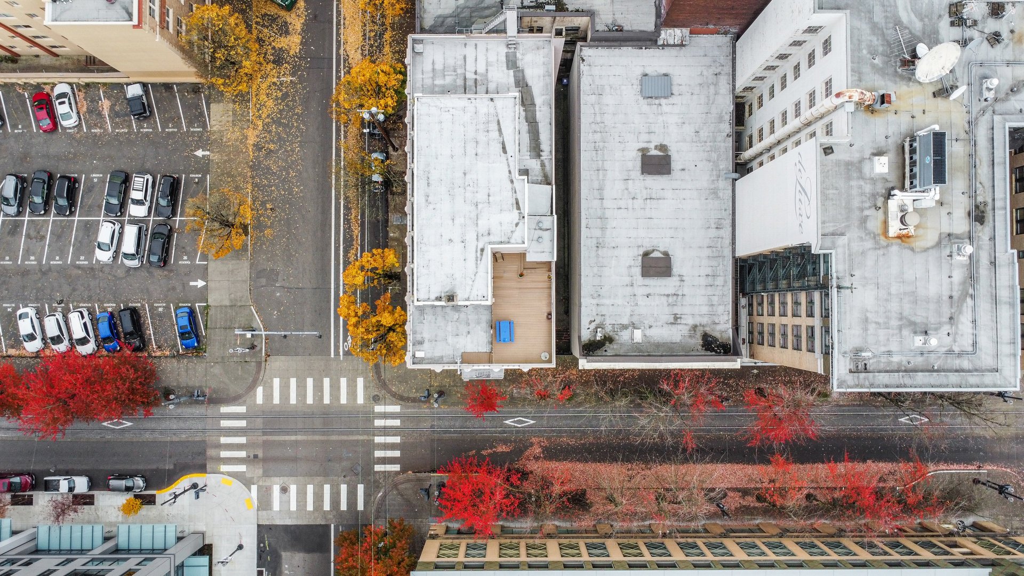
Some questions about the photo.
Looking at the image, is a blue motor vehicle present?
Yes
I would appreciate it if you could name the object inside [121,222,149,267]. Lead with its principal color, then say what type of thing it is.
white van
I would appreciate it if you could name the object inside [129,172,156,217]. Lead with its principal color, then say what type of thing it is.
white car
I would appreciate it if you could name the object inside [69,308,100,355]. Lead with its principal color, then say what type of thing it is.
white car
